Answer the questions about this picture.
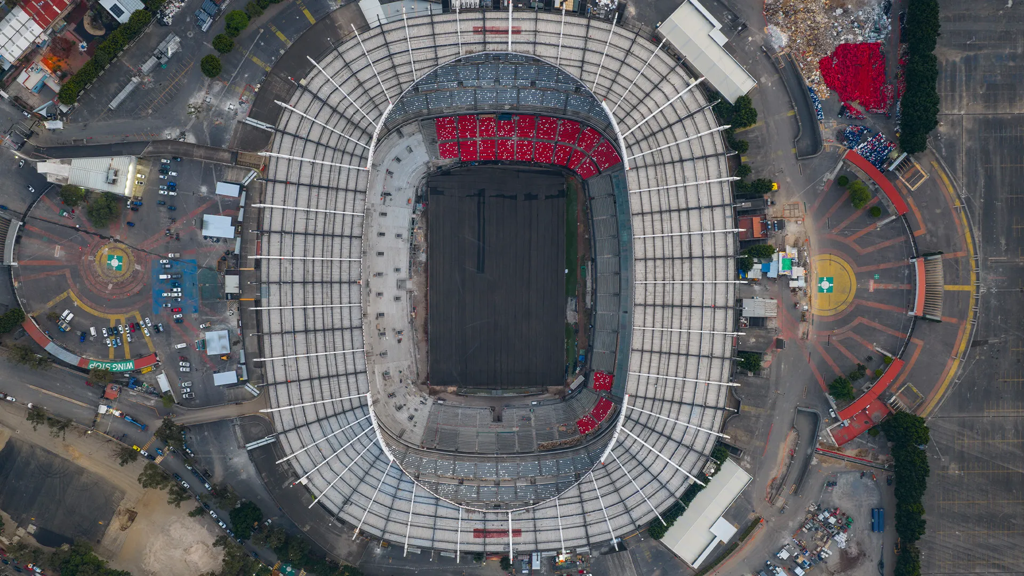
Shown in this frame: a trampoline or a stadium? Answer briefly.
stadium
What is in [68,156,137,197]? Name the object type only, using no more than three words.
building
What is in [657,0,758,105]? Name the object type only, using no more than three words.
building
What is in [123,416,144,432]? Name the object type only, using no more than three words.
vehicle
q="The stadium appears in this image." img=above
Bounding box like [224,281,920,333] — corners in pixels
[247,2,749,565]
